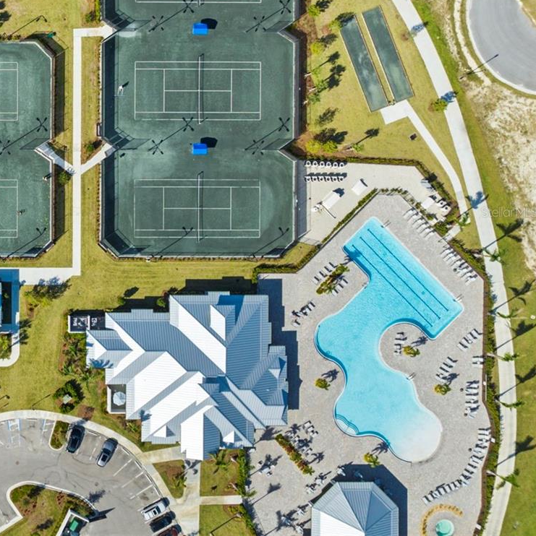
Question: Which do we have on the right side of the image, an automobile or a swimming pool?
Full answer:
The feature located on the right side of the image is a swimming pool.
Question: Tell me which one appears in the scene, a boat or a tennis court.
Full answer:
I can see a tennis court in this picture.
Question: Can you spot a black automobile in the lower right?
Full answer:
No, the scene shows no black automobile in the lower right.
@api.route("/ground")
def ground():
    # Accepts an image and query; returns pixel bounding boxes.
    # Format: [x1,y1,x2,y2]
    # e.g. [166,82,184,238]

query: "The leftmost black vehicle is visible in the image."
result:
[67,426,84,453]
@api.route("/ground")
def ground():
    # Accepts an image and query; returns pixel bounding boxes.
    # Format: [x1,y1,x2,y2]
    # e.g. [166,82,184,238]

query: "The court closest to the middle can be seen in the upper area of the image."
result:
[105,148,294,256]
